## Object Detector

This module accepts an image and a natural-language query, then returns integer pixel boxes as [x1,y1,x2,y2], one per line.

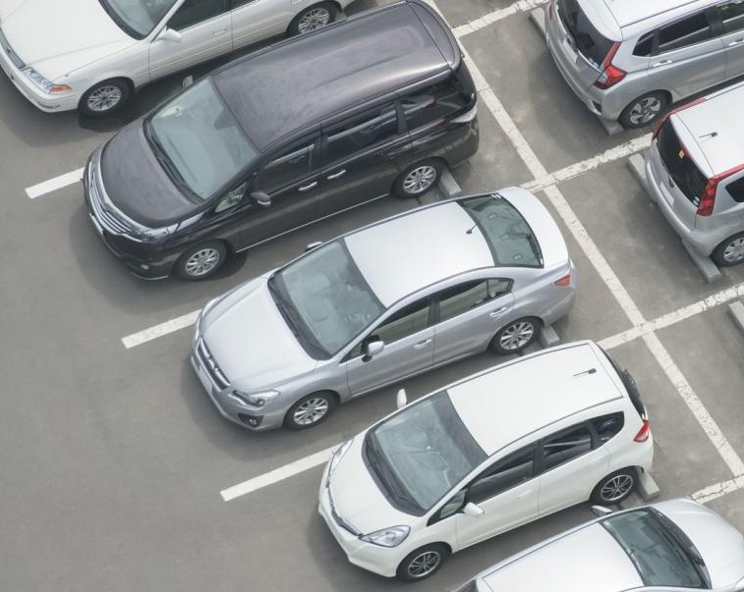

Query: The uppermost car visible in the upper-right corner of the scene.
[549,0,744,124]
